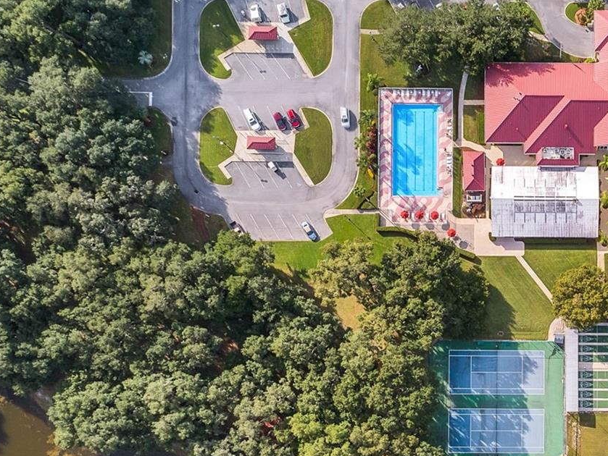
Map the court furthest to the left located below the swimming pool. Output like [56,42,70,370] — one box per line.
[430,342,564,456]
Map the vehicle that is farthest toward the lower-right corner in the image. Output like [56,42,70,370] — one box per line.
[302,221,318,239]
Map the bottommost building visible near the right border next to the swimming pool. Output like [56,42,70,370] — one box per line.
[489,166,600,238]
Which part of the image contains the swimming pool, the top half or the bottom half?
top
